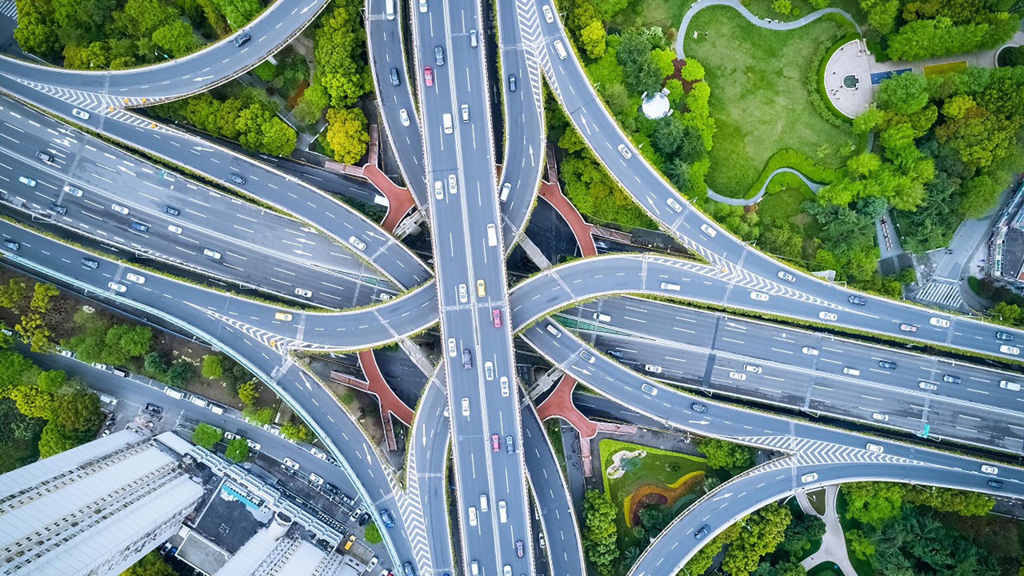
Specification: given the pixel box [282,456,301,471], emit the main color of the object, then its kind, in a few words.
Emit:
white car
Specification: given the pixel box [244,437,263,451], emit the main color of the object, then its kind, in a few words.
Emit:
white car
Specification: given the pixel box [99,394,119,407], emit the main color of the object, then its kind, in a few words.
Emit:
white vehicle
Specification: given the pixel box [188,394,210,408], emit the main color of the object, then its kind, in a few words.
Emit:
white vehicle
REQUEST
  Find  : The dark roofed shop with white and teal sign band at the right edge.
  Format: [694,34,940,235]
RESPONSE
[987,226,1024,283]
